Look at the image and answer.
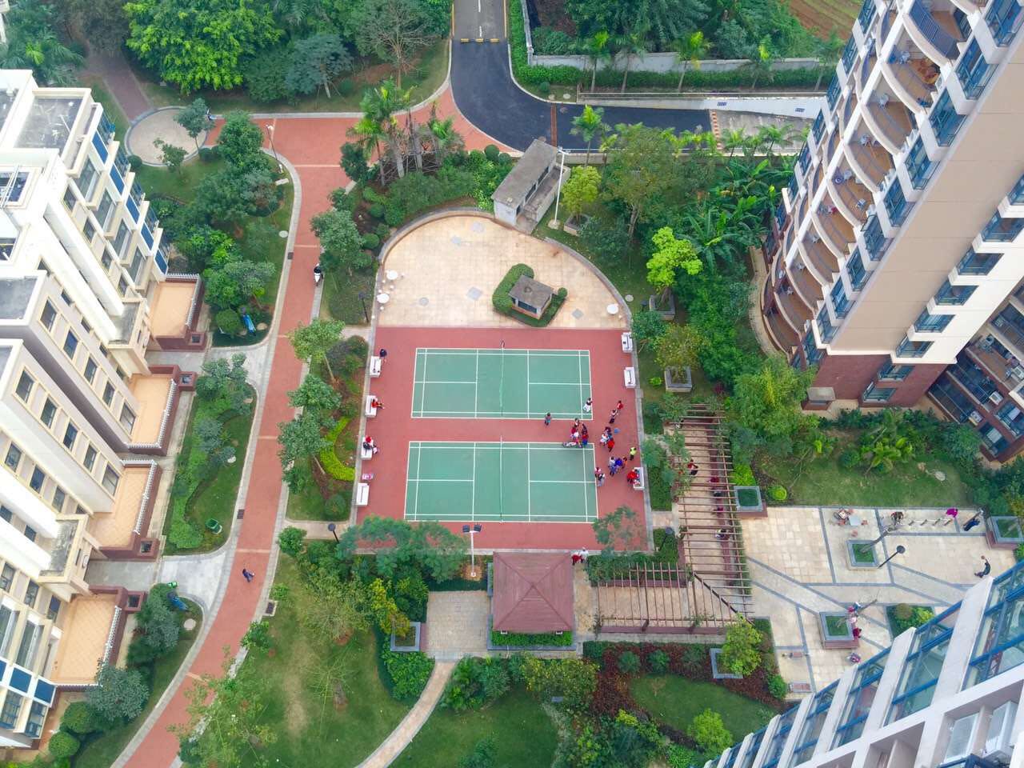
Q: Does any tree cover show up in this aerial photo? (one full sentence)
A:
Yes, some tree cover is visible.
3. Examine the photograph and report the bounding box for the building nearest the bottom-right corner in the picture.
[690,553,1024,768]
